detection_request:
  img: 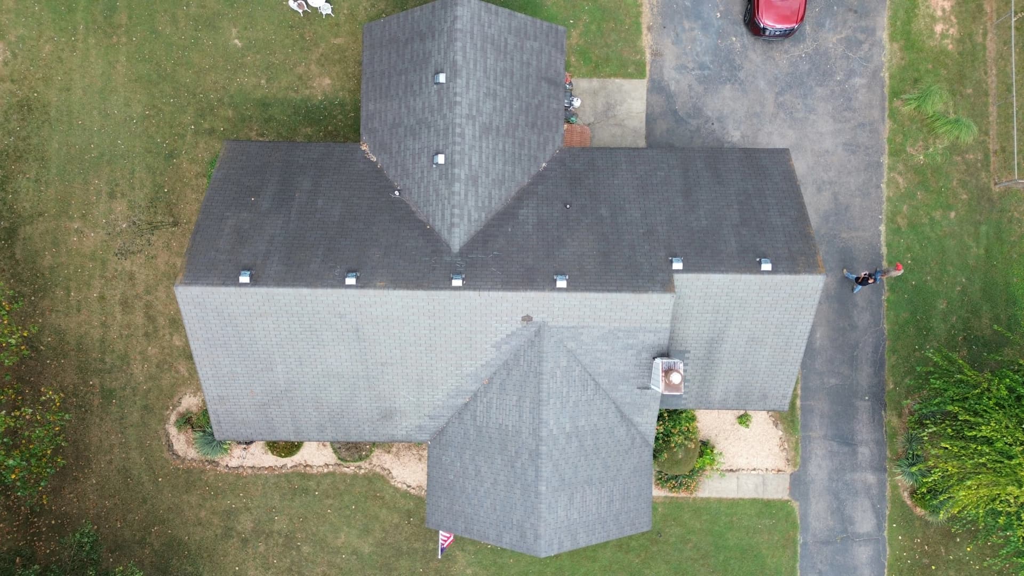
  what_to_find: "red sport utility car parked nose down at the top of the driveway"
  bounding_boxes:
[745,0,803,38]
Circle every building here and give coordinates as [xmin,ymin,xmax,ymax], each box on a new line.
[175,0,825,557]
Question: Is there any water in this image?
No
